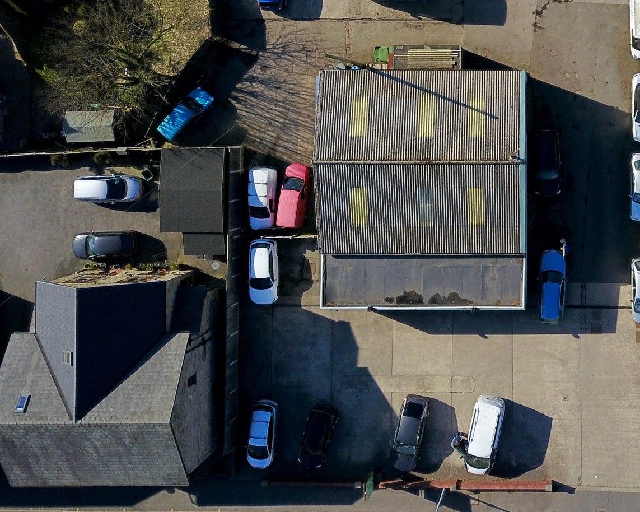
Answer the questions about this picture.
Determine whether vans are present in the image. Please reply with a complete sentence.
Yes, the photo shows a van.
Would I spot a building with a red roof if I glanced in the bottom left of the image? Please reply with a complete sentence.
No, no building with a red roof can be made out in the bottom left of the image.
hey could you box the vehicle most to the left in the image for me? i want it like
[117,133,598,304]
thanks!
[73,229,138,264]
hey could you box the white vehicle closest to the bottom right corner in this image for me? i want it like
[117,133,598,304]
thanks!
[452,393,505,474]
